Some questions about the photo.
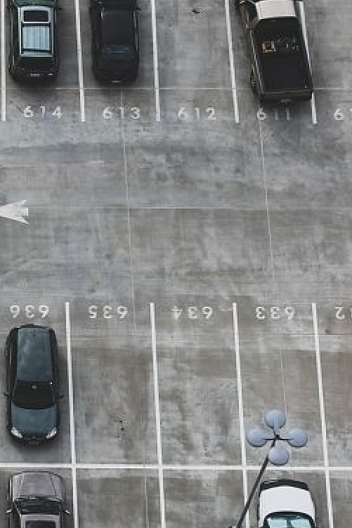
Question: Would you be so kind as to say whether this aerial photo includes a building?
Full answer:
No, the scene contains no building.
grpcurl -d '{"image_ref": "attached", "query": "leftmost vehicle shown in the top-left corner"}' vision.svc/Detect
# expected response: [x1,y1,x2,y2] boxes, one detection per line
[7,0,62,82]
